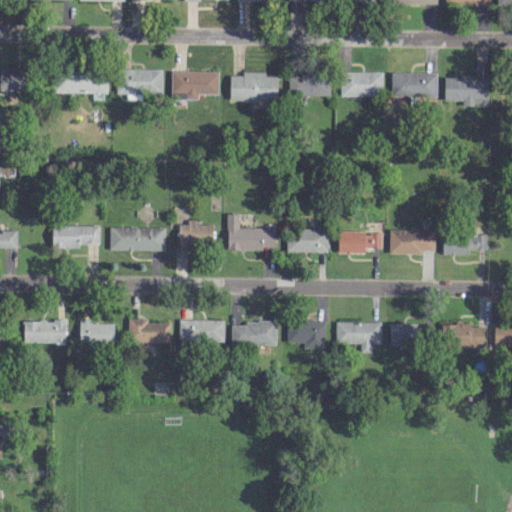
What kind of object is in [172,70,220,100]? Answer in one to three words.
house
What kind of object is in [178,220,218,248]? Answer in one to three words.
house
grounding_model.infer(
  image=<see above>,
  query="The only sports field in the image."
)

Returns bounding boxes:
[56,412,512,512]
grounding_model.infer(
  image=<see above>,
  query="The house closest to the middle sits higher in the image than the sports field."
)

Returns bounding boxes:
[227,214,280,251]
